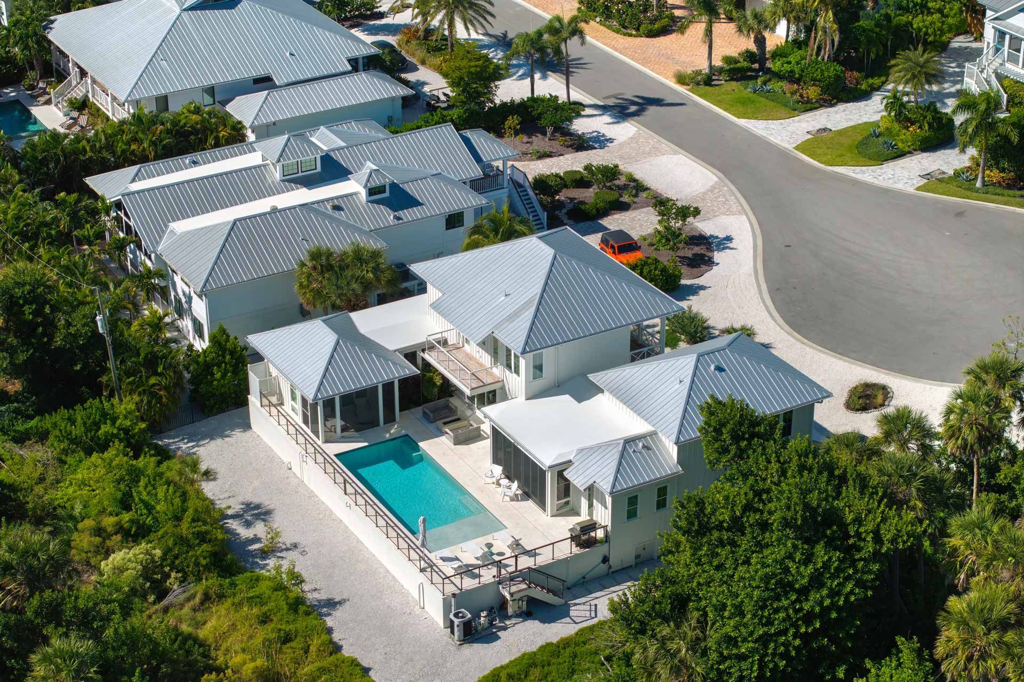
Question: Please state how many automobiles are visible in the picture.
2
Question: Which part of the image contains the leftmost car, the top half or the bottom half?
top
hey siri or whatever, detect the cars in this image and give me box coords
[376,45,413,70]
[598,226,647,266]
